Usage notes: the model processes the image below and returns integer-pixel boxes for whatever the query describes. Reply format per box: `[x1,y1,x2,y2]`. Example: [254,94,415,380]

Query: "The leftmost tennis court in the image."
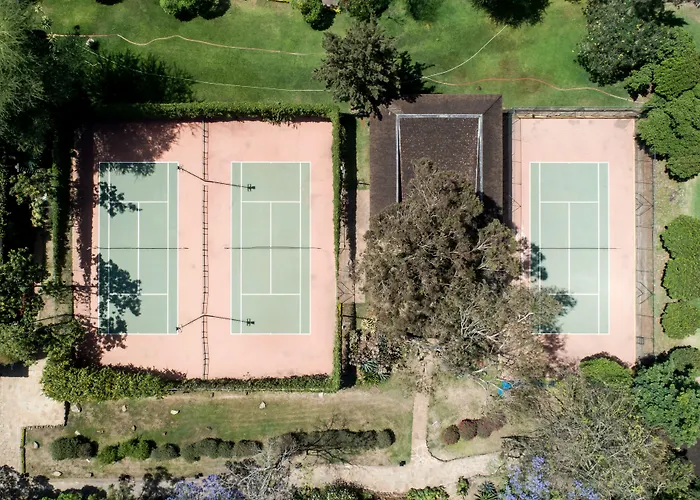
[72,119,206,379]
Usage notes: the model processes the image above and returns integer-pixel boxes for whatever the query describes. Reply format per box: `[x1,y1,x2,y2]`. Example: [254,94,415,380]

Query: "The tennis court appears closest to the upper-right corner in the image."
[512,118,636,364]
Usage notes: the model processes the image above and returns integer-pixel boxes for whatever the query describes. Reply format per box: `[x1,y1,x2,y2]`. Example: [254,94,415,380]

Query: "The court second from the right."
[206,119,336,379]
